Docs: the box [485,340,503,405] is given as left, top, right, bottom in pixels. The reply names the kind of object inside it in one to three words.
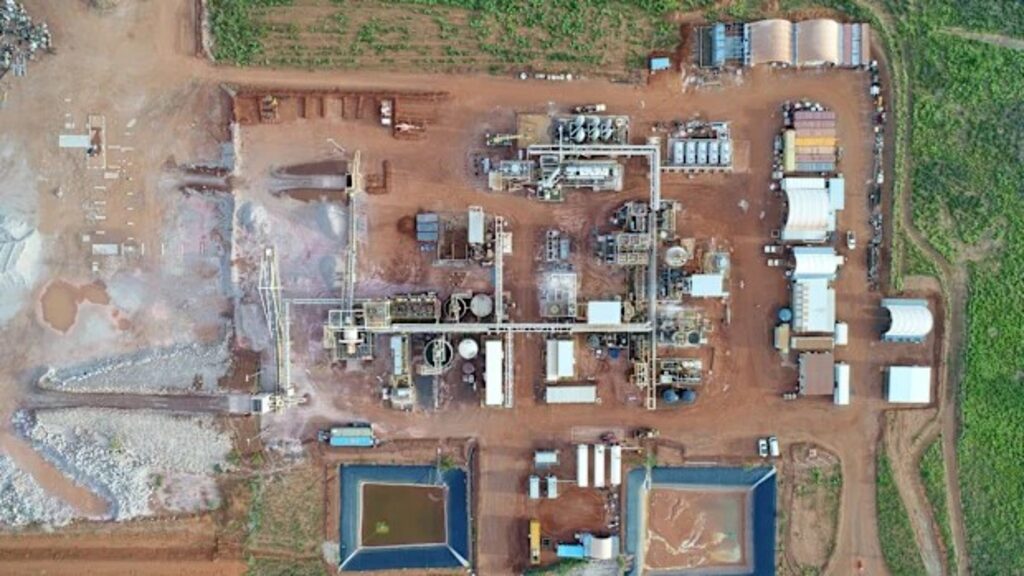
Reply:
building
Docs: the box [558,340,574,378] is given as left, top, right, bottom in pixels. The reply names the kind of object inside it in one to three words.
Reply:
building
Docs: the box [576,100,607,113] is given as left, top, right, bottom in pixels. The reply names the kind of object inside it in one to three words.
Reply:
vehicle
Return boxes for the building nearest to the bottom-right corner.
[882,366,930,403]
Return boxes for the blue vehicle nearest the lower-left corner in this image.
[321,434,375,446]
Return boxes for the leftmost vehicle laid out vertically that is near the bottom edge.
[529,519,542,562]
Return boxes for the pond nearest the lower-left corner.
[337,461,474,574]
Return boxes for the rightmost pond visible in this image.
[624,465,779,576]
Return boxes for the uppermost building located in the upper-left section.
[60,136,94,148]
